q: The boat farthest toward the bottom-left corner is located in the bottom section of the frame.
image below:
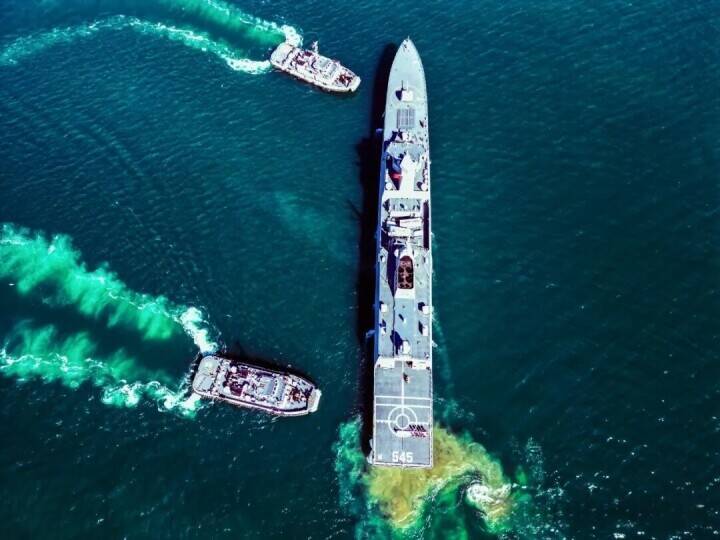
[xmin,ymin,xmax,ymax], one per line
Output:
[193,357,321,413]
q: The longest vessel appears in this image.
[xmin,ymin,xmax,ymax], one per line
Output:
[367,34,437,469]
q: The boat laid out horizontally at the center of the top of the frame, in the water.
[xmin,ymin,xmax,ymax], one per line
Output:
[271,46,362,91]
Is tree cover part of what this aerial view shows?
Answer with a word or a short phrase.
No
